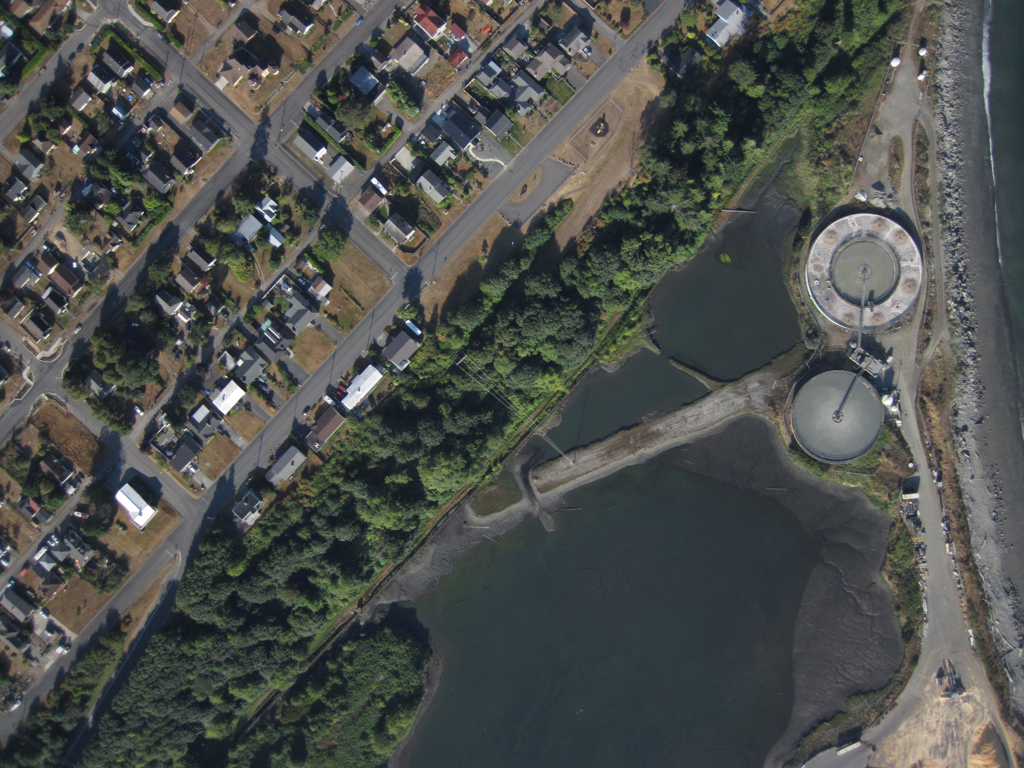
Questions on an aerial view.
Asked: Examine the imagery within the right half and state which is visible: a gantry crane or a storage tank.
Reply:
storage tank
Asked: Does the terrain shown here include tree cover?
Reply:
Yes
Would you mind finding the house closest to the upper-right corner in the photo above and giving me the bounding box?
[705,0,746,50]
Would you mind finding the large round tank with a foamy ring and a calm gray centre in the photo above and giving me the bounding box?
[805,214,923,329]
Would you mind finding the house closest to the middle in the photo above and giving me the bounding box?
[385,331,420,367]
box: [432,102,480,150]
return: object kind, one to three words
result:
house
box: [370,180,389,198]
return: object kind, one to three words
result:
camper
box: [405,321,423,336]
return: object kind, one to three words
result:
camper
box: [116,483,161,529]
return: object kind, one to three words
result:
building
